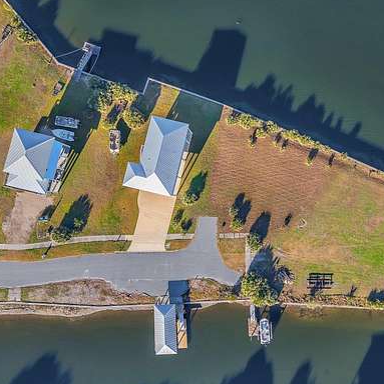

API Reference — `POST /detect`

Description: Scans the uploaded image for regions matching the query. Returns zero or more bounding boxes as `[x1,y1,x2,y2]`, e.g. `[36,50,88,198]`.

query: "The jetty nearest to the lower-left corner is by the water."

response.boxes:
[157,296,189,350]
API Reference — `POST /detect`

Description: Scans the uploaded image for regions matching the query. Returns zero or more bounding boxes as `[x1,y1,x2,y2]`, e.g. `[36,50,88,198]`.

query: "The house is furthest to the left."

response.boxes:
[4,128,69,194]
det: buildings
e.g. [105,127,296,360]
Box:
[122,115,199,195]
[4,128,69,194]
[155,304,179,355]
